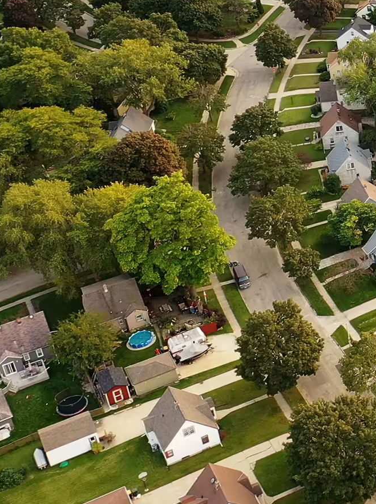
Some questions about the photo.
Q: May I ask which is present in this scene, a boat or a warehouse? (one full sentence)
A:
The one in the frame is a boat.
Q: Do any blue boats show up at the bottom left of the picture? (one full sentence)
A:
No, the scene shows no blue boat at the bottom left of the picture.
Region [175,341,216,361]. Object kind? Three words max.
boat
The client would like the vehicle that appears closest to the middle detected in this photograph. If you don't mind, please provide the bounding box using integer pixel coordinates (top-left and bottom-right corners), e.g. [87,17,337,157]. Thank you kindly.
[233,263,251,287]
